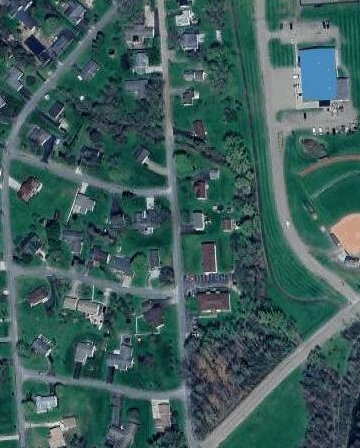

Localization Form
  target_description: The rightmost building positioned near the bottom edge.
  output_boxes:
[151,400,174,431]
